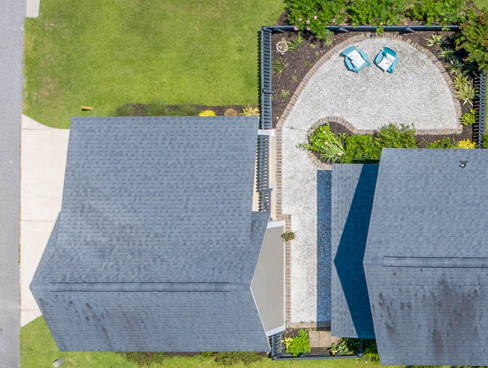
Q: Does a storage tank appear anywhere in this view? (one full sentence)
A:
No, there appears to be no storage tank in this shot.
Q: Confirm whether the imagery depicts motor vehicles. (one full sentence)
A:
No, there's no motor vehicle here.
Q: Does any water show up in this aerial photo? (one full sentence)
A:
No, there is no water in the image.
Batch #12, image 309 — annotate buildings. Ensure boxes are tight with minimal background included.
[330,148,488,367]
[32,117,286,352]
